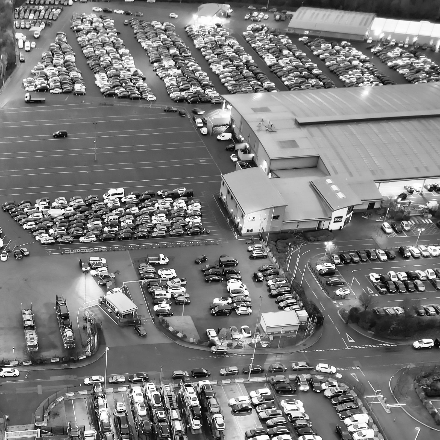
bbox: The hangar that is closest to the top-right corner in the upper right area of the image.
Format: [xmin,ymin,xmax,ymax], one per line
[289,2,371,40]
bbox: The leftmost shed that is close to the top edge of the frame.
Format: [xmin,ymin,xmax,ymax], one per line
[196,3,236,24]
